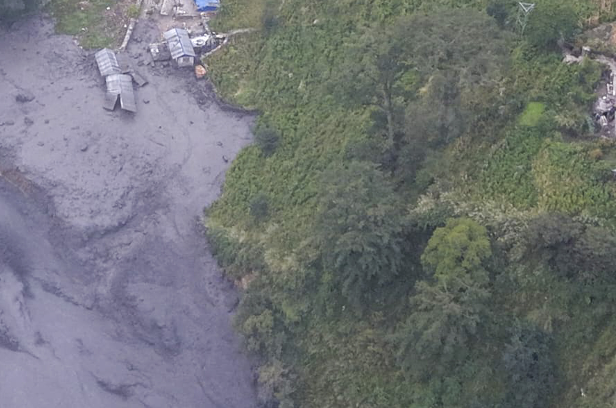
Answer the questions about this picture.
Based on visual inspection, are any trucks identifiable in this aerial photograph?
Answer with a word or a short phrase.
No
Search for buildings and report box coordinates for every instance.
[103,75,137,113]
[189,0,221,16]
[163,28,197,72]
[94,48,124,75]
